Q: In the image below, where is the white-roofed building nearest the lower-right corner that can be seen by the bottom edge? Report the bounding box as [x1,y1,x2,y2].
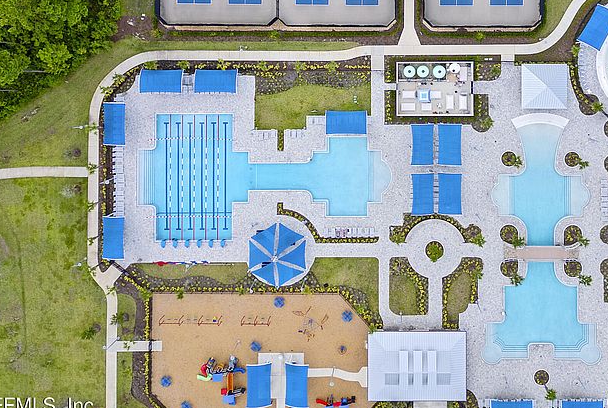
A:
[367,330,466,401]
